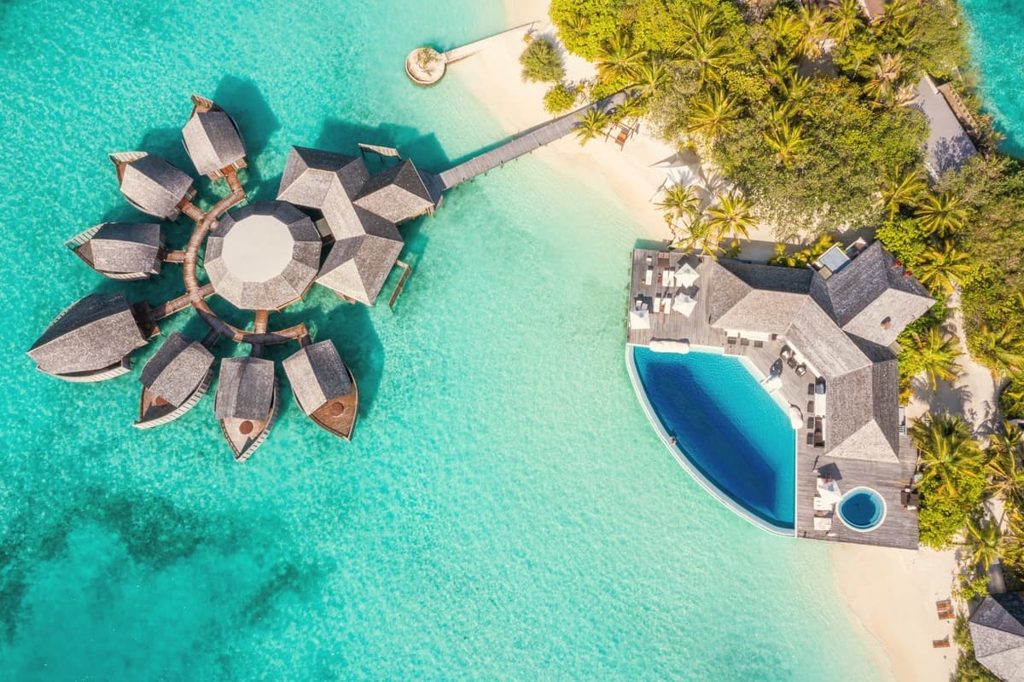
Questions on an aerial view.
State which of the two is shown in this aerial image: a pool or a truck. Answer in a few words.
pool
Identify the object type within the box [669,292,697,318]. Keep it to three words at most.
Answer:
umbrella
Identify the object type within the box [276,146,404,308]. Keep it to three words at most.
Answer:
building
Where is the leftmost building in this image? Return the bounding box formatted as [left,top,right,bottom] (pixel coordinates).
[208,202,322,313]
